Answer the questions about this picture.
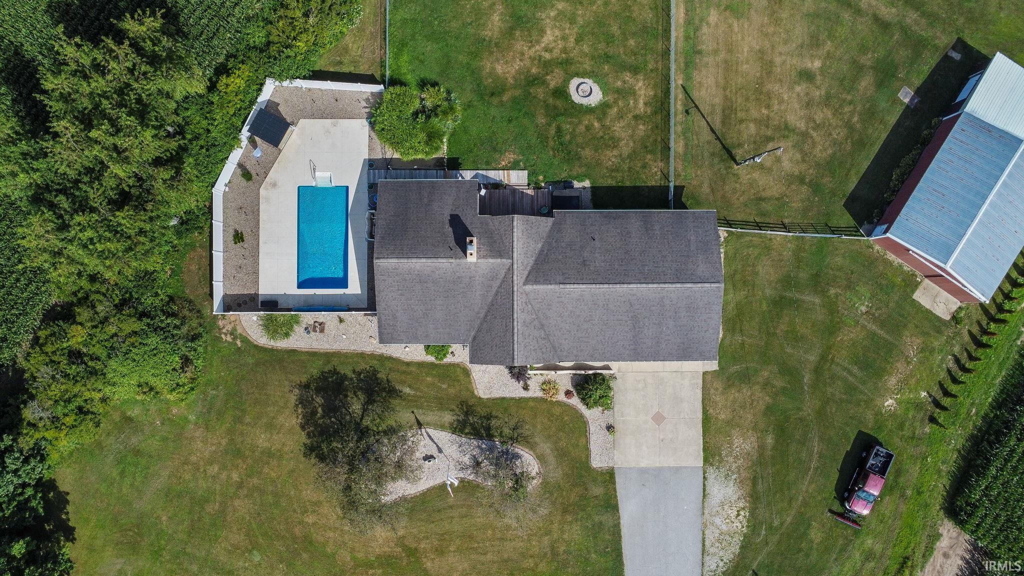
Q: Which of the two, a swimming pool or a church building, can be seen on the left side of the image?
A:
swimming pool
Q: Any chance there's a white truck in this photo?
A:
No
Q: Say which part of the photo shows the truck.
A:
bottom right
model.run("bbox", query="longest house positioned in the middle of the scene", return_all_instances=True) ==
[371,179,726,369]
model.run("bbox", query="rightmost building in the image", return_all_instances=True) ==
[869,50,1024,307]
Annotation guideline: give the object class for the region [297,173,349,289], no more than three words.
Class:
swimming pool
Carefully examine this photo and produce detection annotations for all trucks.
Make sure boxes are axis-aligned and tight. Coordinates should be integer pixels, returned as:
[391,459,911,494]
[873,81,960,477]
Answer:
[829,442,897,527]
